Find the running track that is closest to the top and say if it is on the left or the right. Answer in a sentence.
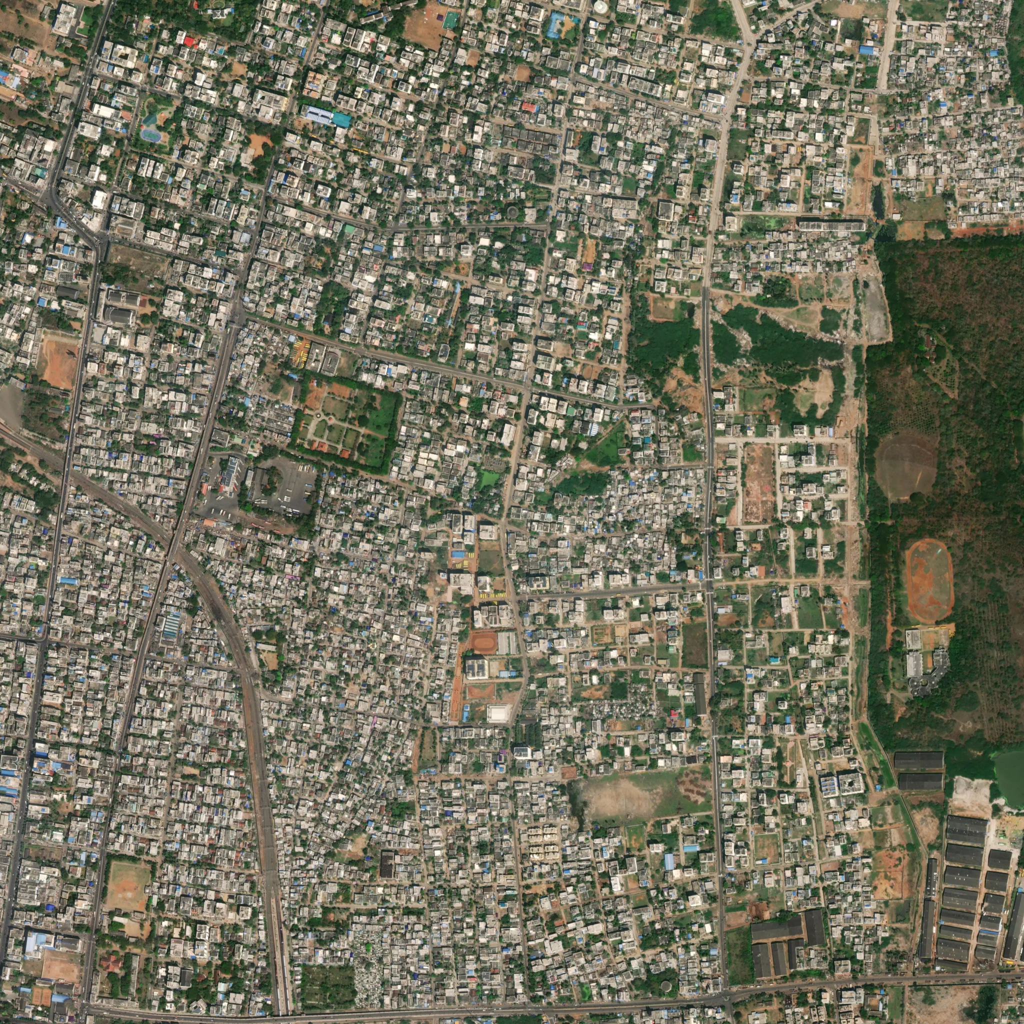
It is on the right.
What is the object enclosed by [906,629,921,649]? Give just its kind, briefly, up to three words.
building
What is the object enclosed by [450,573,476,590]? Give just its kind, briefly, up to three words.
building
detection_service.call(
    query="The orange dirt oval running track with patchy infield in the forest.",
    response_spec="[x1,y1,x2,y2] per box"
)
[906,539,955,623]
